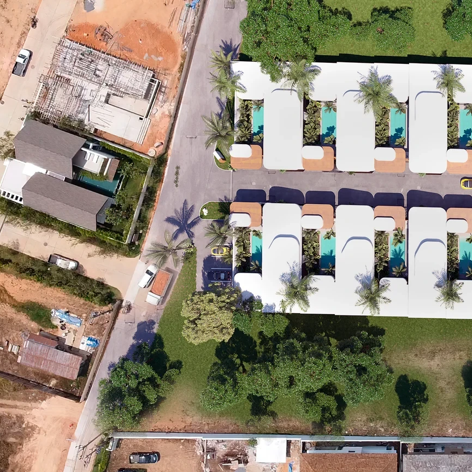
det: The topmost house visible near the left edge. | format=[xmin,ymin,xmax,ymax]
[0,120,121,230]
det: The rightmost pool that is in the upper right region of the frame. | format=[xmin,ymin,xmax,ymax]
[458,106,472,149]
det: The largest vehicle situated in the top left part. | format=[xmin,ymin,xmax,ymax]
[8,47,30,78]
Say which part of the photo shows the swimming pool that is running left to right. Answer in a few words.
left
